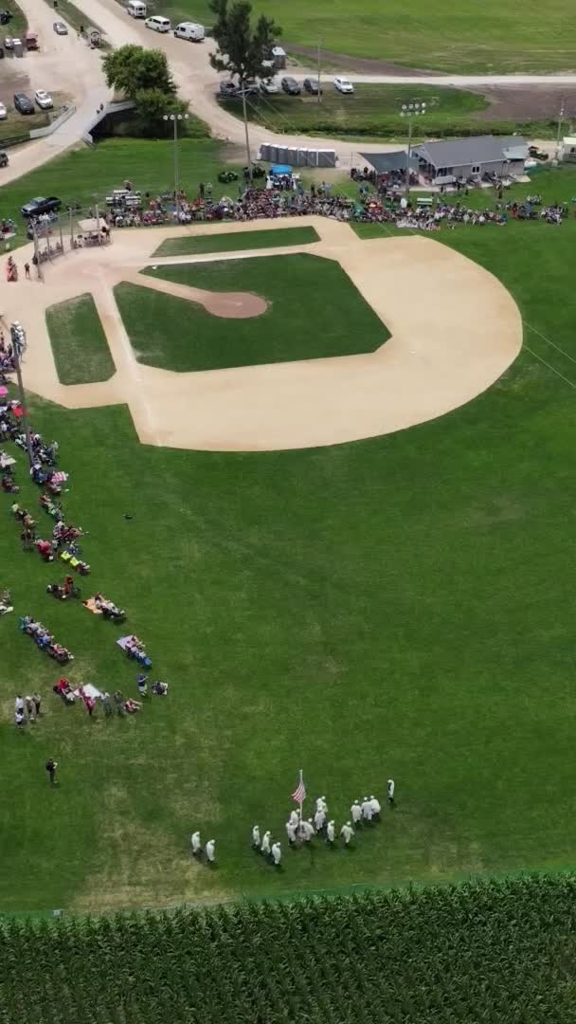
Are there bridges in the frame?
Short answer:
Yes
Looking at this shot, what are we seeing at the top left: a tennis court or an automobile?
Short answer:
automobile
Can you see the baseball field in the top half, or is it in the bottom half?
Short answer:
top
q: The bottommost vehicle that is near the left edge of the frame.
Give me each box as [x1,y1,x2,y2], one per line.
[17,195,65,218]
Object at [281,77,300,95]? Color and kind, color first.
gray car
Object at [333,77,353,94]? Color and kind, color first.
white car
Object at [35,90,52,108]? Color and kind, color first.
white car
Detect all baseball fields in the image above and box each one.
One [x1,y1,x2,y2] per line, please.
[0,216,524,450]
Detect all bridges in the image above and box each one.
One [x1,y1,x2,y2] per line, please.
[30,106,141,149]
